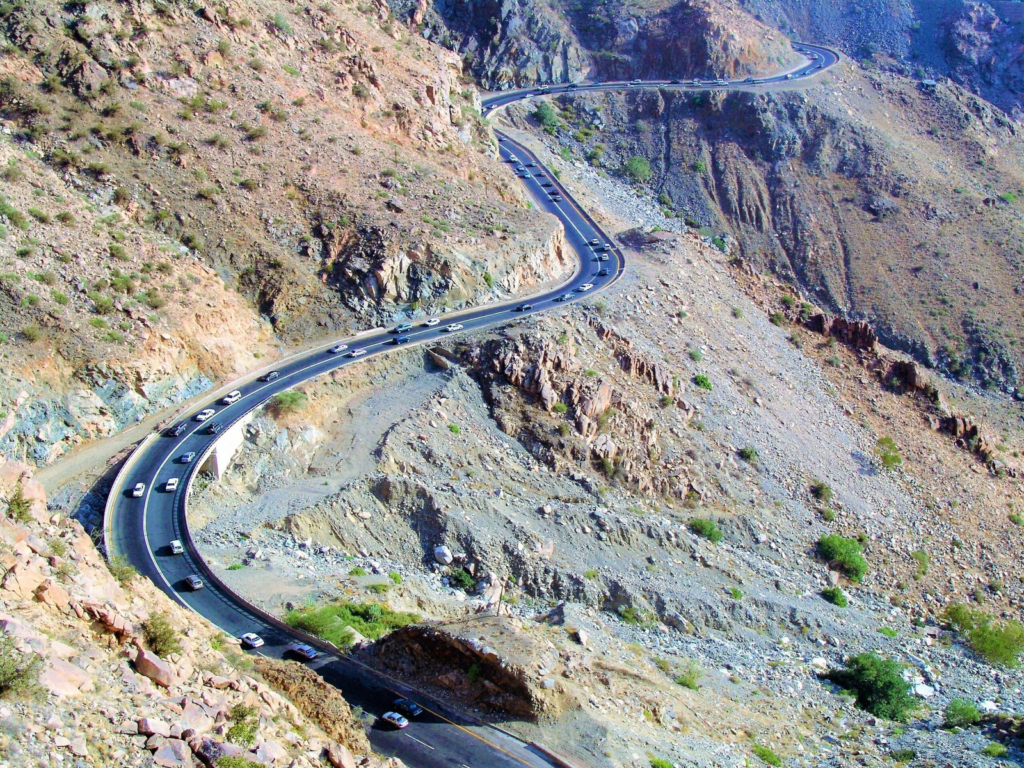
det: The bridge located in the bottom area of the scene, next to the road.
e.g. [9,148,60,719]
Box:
[99,361,350,620]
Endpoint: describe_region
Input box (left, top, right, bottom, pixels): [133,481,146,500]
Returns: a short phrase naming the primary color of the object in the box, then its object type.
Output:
white vehicle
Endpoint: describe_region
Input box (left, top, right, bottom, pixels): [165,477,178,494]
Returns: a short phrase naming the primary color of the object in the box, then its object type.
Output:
white vehicle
